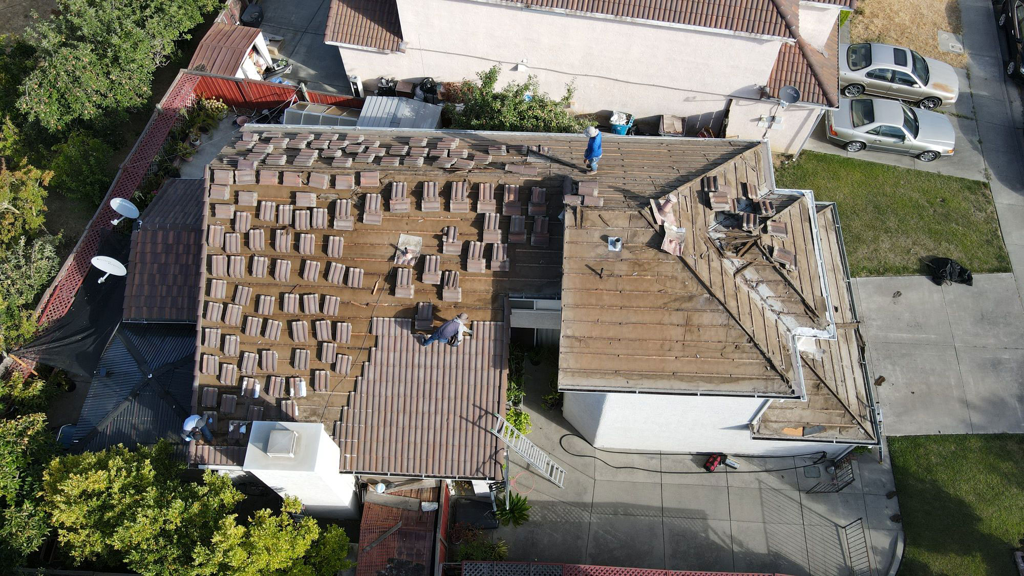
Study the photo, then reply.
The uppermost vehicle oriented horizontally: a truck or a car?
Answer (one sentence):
The uppermost vehicle oriented horizontally in the image is a car.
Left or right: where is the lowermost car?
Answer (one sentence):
You can find the lowermost car on the right side of the picture.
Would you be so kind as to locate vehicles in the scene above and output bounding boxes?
[1000,0,1024,84]
[843,39,966,107]
[821,95,960,159]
